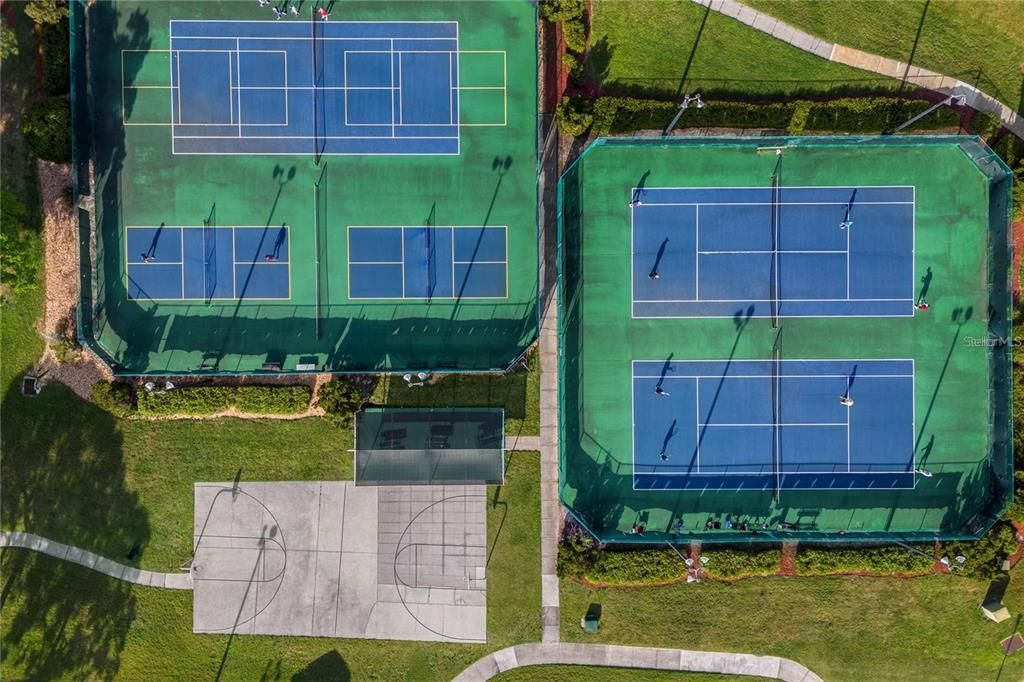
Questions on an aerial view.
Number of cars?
zero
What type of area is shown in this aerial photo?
sports ground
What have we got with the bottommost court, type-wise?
basketball court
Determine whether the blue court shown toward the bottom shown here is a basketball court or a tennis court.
tennis court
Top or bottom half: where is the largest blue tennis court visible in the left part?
top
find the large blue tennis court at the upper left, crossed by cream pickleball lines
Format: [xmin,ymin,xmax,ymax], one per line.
[122,21,506,154]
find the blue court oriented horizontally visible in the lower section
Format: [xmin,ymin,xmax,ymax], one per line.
[632,359,915,490]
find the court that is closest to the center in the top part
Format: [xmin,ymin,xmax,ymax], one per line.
[347,226,508,299]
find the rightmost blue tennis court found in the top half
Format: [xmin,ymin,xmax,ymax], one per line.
[632,186,915,318]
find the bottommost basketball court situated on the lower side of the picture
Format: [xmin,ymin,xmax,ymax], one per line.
[193,481,487,643]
